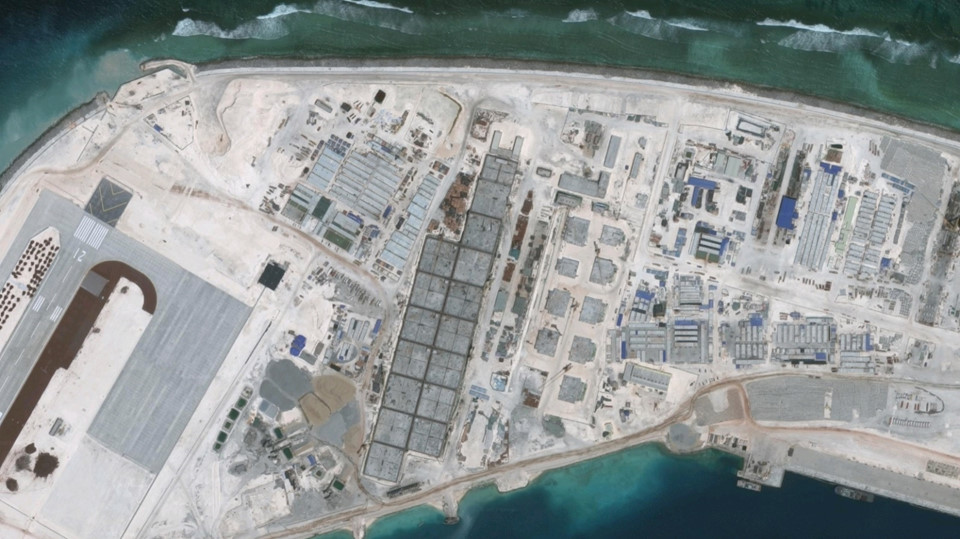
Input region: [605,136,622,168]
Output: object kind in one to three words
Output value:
building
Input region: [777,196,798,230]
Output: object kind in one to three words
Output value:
building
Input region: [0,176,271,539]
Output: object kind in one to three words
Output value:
airport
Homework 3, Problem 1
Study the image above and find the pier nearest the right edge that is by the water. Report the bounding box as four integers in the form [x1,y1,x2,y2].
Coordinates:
[443,494,460,526]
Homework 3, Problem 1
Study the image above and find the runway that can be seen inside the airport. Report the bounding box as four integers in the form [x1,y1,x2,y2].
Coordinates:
[0,211,114,421]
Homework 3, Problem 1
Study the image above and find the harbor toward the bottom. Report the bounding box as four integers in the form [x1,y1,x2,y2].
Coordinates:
[737,442,960,517]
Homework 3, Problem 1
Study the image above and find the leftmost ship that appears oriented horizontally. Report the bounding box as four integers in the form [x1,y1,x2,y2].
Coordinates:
[736,479,761,491]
